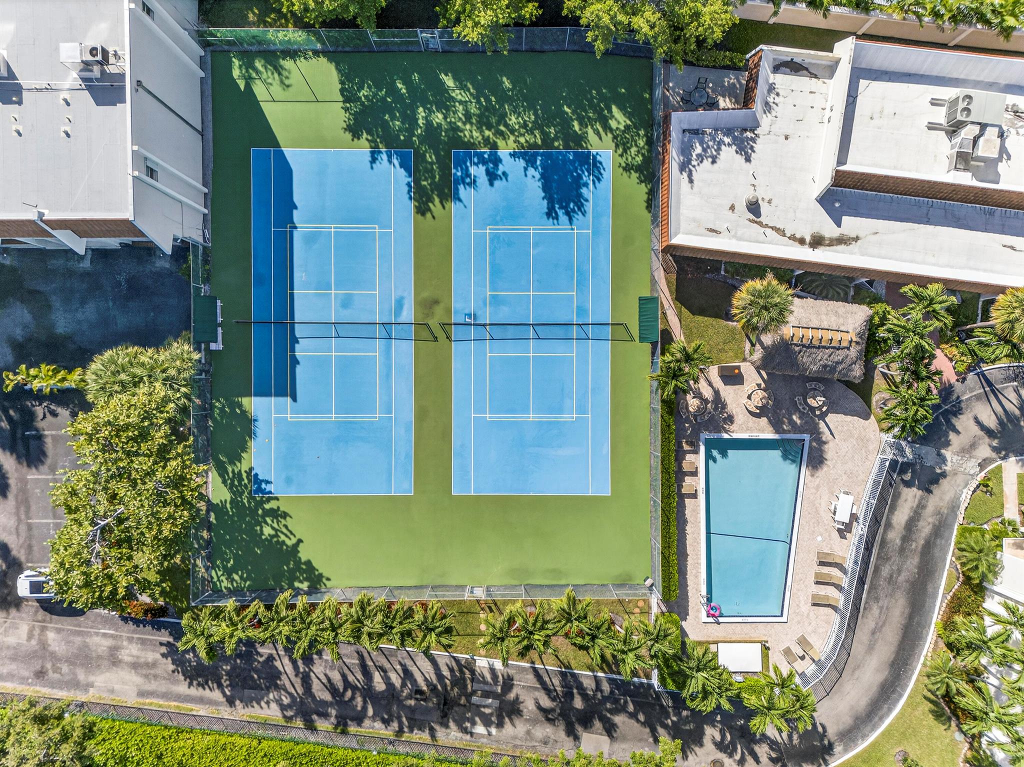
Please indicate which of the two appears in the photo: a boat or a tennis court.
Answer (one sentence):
It is a tennis court that can be seen here.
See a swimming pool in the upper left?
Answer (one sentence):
No, looking in the upper left, there is no swimming pool.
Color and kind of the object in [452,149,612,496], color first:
blue tennis court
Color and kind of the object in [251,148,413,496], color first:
blue tennis court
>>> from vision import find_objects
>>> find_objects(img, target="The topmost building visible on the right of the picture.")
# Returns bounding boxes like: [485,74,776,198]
[661,36,1024,298]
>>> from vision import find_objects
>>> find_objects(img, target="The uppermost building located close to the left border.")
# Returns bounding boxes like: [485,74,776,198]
[0,0,212,254]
